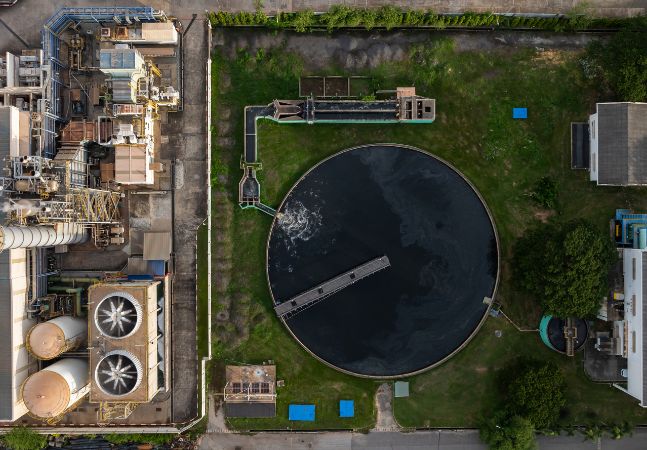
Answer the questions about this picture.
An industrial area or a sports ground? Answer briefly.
industrial area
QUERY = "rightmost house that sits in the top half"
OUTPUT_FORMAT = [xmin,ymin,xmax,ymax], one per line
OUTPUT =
[587,100,647,185]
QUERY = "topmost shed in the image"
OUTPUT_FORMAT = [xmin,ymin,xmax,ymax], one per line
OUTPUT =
[140,22,181,49]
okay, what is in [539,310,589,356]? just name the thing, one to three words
storage tank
